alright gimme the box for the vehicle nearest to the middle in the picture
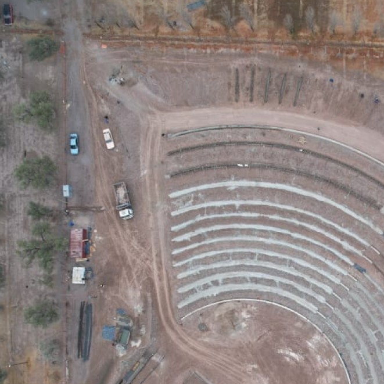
[113,183,133,221]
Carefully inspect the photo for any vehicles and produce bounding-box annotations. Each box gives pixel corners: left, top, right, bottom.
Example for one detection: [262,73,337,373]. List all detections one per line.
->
[103,128,115,150]
[3,4,14,26]
[70,133,79,155]
[113,183,133,221]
